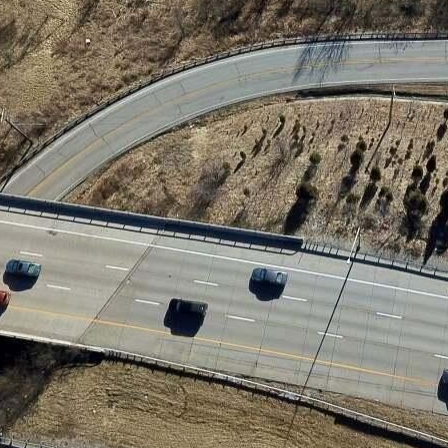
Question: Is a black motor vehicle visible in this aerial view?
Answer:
Yes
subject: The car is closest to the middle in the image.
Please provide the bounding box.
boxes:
[249,271,289,291]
